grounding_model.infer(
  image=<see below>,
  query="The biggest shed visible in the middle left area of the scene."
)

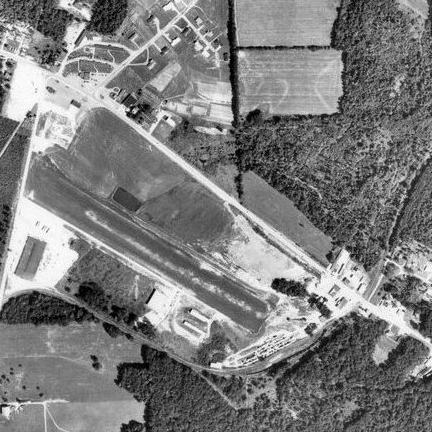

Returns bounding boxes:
[16,237,46,280]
